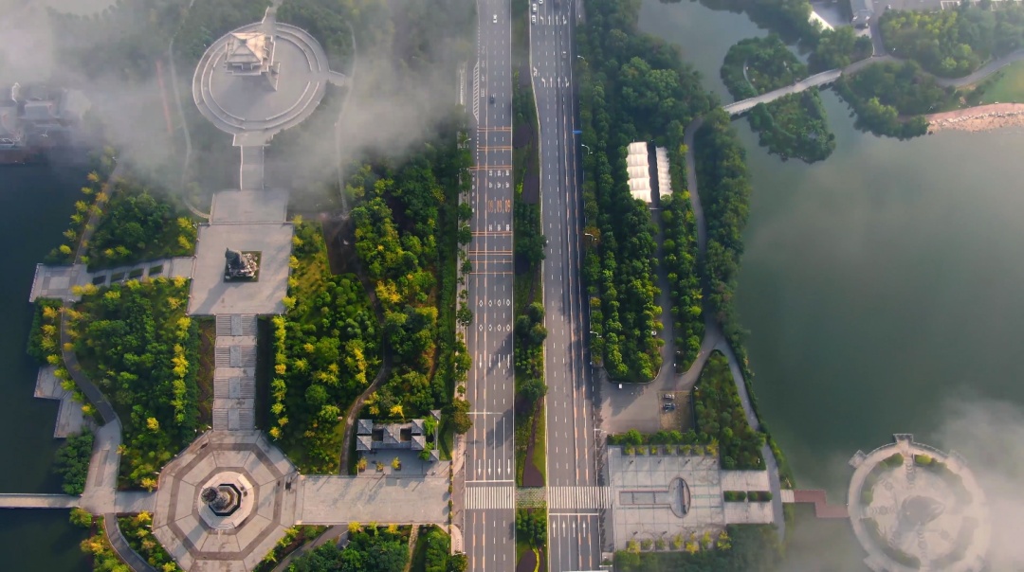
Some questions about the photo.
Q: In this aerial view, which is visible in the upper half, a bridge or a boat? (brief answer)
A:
bridge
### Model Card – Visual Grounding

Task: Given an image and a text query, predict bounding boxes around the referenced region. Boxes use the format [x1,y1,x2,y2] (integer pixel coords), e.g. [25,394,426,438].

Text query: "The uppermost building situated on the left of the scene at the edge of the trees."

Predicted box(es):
[223,36,286,92]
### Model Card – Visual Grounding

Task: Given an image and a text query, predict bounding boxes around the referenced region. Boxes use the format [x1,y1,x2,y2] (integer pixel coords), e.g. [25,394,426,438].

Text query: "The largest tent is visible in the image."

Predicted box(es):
[628,143,651,205]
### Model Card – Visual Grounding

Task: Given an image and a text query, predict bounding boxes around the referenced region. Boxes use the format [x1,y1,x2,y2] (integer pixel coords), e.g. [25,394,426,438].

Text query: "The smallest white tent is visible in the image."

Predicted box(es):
[654,147,672,203]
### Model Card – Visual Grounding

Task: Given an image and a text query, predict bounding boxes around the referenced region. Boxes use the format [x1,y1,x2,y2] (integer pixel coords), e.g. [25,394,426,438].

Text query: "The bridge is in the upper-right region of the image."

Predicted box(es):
[723,65,846,118]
